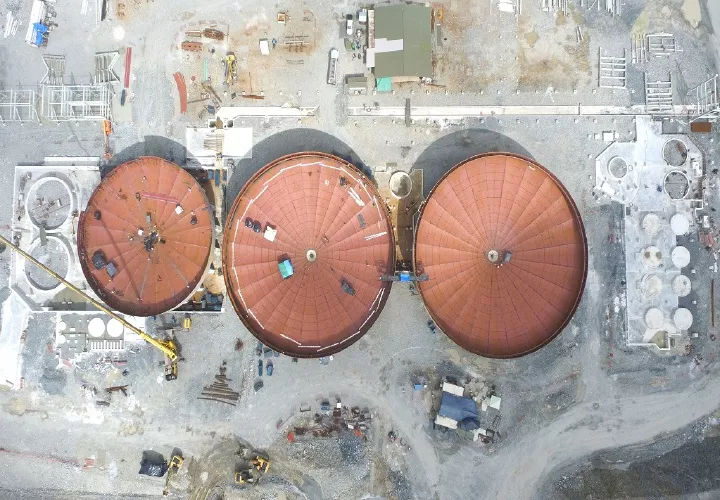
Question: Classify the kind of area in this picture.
industrial area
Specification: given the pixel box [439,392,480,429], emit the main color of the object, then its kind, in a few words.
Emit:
blue tent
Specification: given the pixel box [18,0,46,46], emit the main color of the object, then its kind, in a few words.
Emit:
white truck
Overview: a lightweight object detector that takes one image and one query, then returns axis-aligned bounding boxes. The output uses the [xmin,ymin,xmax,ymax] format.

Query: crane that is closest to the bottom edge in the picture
[0,231,192,383]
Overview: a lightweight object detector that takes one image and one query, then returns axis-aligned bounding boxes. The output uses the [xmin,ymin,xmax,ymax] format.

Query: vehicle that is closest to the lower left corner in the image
[165,456,182,489]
